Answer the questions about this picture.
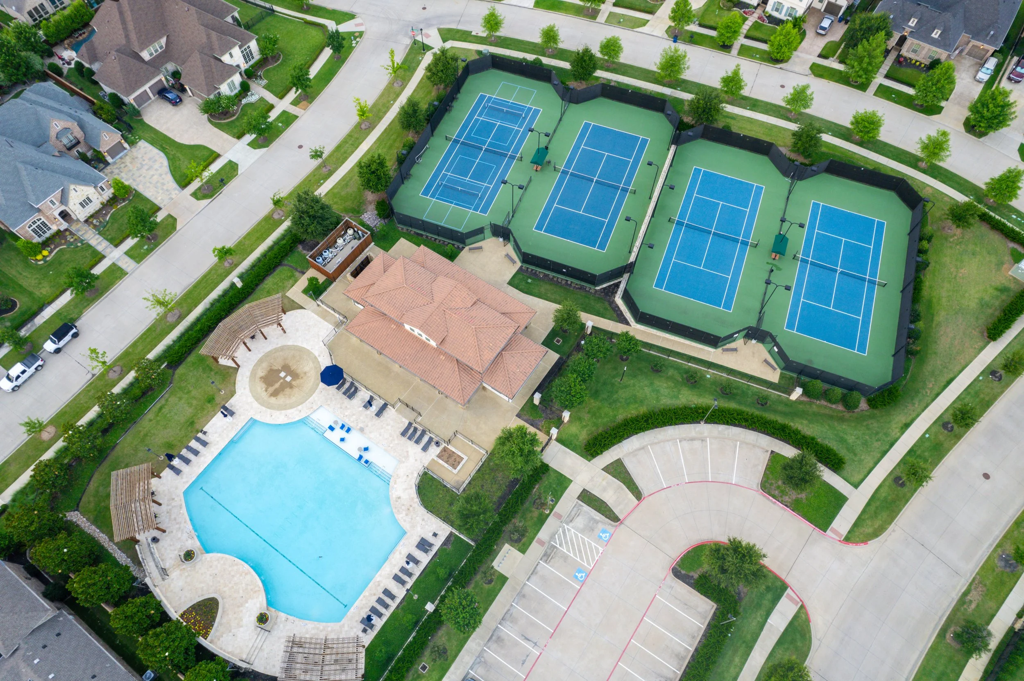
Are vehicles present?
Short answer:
Yes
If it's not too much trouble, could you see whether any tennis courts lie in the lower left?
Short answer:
No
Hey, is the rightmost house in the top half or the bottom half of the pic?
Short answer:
top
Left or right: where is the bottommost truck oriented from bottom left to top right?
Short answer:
left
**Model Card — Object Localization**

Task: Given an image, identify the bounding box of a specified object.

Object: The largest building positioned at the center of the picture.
[343,243,549,406]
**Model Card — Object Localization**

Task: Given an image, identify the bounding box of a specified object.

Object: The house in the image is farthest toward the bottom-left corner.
[0,557,142,681]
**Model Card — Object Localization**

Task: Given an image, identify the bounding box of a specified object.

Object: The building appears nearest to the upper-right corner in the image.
[869,0,1021,62]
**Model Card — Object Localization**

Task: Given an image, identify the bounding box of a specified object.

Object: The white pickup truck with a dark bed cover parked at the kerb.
[0,352,46,395]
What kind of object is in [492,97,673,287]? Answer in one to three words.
tennis court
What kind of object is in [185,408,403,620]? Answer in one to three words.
swimming pool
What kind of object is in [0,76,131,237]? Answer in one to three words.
house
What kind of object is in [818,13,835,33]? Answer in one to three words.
car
